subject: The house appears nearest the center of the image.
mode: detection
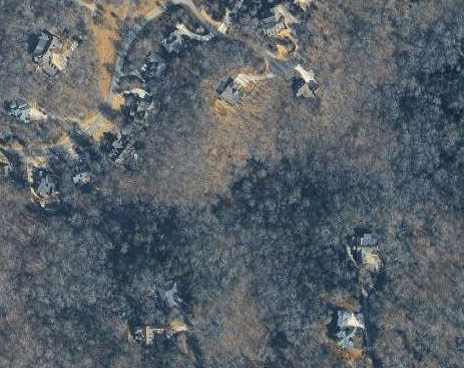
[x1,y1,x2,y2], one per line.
[218,80,248,105]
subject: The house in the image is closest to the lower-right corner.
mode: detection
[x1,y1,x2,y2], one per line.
[334,305,366,345]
